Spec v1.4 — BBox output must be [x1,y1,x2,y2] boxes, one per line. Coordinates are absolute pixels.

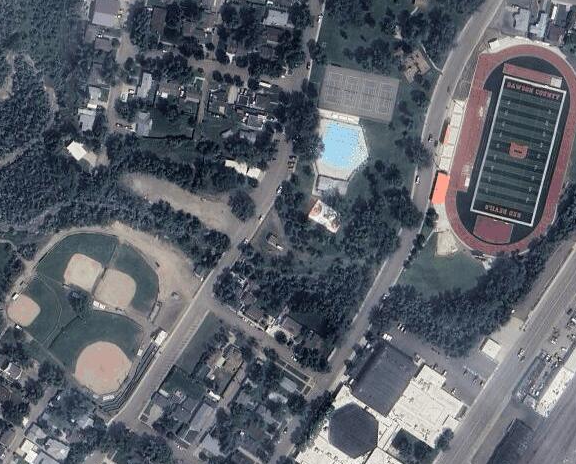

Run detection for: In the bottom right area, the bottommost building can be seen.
[489,419,536,464]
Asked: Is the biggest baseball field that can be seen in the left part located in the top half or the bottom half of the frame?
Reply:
bottom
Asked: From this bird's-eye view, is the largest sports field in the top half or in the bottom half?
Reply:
top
